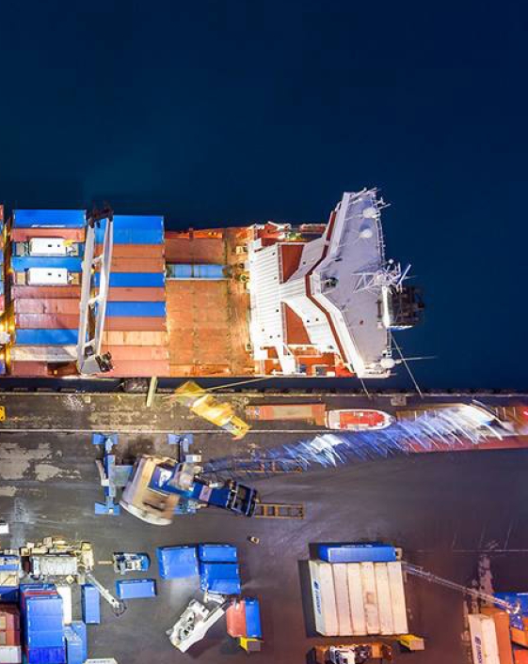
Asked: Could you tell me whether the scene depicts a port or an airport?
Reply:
port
